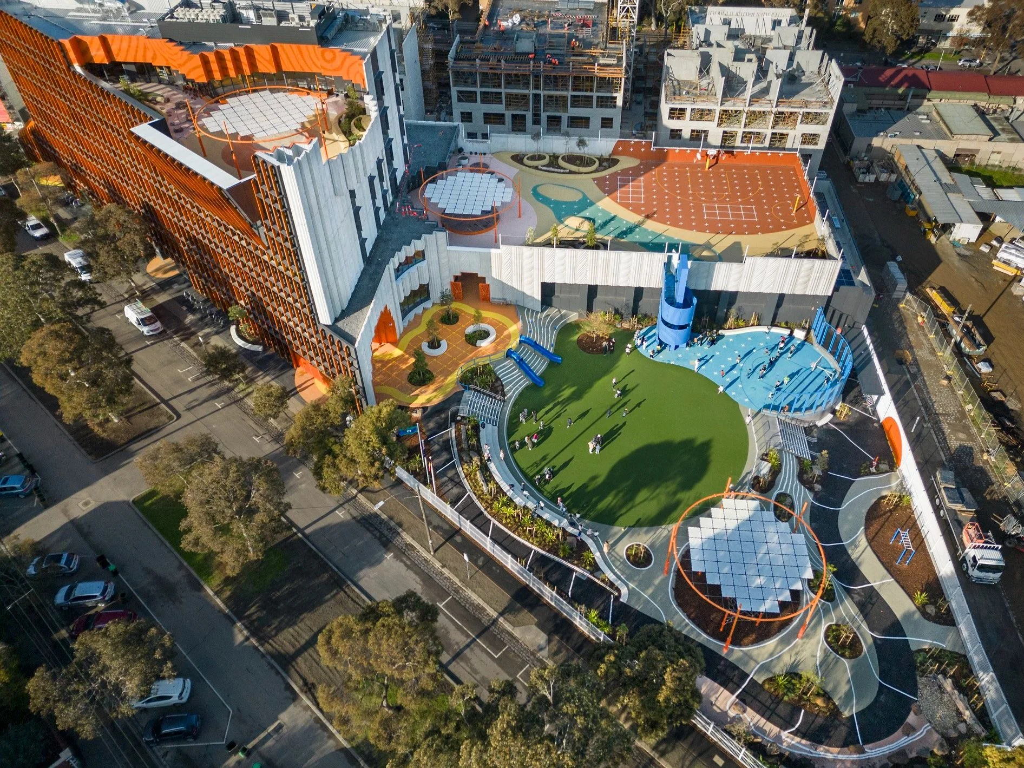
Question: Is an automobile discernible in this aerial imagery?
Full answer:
Yes, the image includes an automobile.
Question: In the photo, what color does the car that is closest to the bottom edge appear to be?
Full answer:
In this view, the car that is closest to the bottom edge is black.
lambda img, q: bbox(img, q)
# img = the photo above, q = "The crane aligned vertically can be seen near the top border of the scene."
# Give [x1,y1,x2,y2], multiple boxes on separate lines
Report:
[619,0,645,139]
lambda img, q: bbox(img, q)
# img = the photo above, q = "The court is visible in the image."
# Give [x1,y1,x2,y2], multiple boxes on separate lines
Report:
[634,324,839,411]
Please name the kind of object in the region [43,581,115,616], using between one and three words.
car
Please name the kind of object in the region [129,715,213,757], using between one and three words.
car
